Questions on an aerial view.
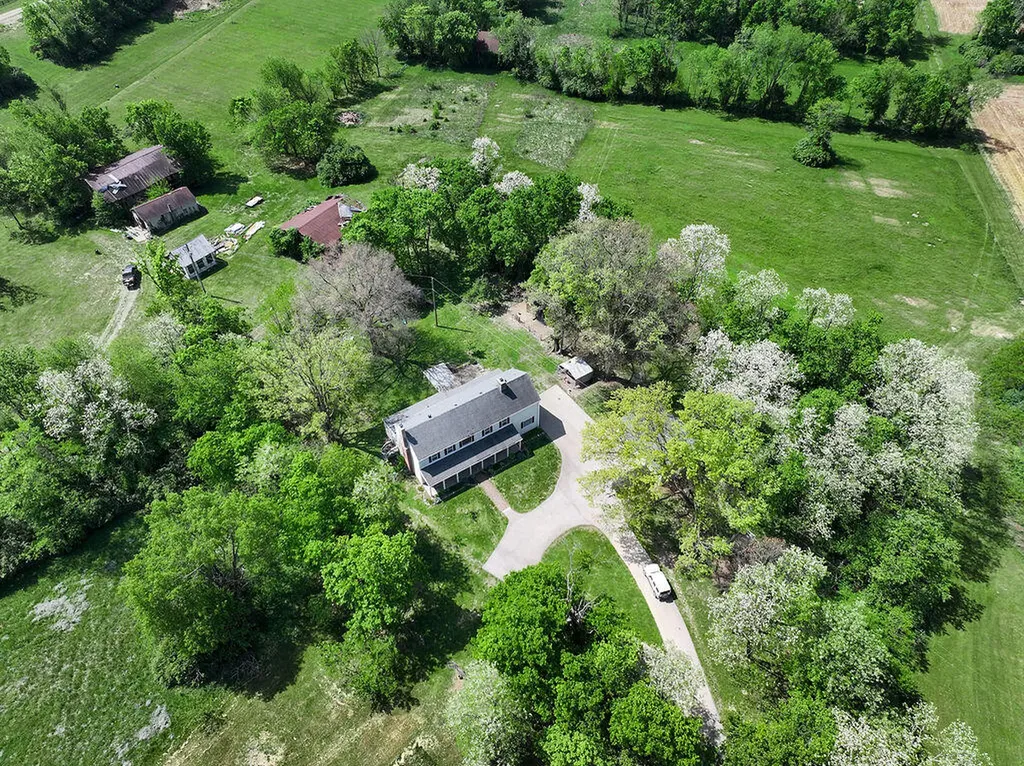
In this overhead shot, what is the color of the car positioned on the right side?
white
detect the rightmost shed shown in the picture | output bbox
[557,356,594,392]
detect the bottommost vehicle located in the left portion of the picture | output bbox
[119,261,138,285]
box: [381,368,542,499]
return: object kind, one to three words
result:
house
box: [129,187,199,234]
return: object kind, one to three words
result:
barn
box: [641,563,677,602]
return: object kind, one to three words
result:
car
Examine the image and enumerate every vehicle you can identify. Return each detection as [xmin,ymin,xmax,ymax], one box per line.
[119,261,138,285]
[641,563,677,602]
